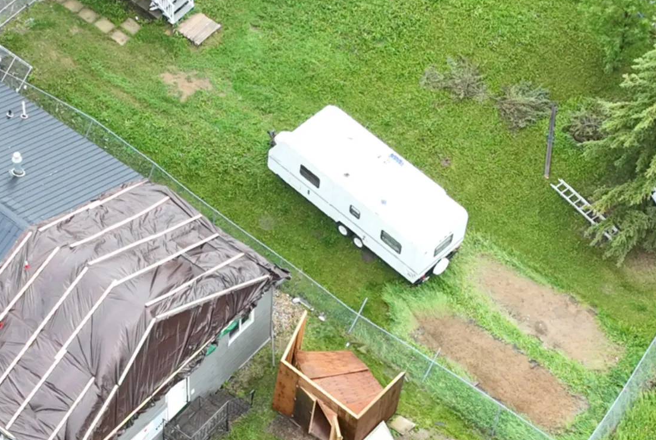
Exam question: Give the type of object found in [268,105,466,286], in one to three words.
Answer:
trailer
